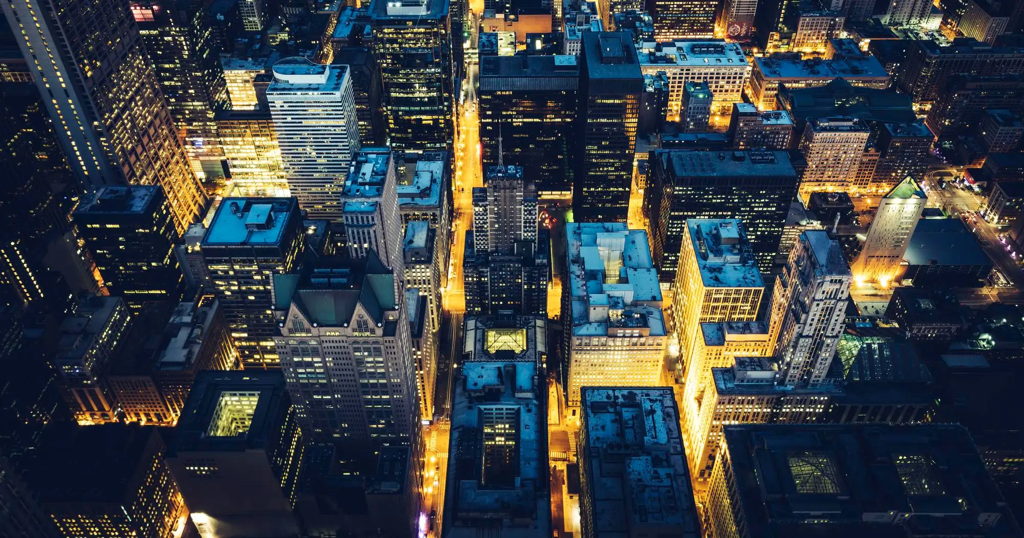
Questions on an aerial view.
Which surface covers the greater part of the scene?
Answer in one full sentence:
The scene is dominated by buildings.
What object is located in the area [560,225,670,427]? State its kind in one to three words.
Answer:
building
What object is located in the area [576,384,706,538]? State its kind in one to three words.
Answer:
building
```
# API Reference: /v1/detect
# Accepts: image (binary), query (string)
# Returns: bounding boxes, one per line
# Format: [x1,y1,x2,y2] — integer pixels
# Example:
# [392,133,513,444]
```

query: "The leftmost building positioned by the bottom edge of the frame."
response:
[0,425,194,538]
